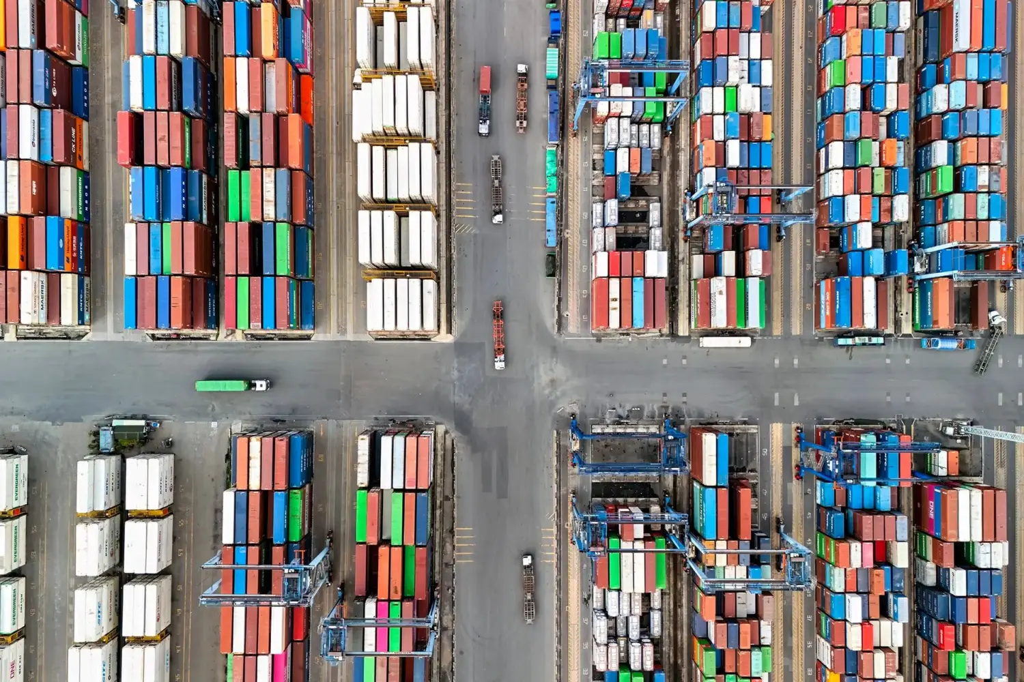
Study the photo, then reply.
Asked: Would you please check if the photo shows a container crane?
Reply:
Yes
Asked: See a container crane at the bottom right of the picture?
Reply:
Yes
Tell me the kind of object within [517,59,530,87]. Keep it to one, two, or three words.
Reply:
vehicle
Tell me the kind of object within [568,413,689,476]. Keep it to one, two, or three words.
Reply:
container crane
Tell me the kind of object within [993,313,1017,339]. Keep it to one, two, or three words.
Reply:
truck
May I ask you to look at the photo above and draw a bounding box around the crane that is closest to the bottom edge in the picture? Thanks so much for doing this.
[319,577,444,660]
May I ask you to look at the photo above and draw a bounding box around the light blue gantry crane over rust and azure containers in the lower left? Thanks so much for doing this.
[203,529,334,607]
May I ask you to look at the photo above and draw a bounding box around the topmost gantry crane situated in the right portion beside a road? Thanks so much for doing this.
[569,60,689,137]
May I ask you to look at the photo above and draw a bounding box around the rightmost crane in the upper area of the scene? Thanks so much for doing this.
[903,241,1024,293]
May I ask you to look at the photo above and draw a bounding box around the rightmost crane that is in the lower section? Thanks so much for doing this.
[934,418,1024,445]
